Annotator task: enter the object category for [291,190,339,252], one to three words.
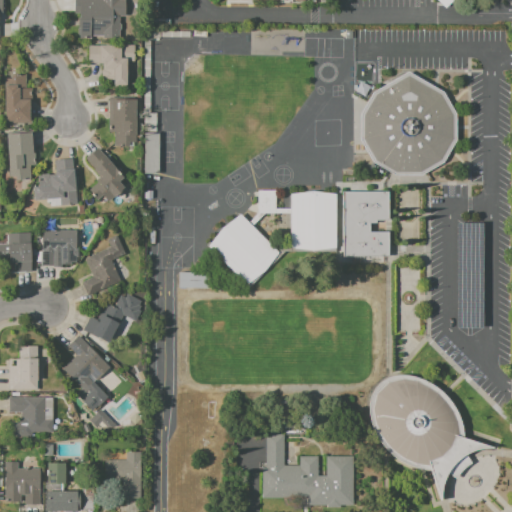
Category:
building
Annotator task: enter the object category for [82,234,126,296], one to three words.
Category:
house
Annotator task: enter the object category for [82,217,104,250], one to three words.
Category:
swimming pool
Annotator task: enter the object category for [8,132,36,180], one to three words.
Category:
house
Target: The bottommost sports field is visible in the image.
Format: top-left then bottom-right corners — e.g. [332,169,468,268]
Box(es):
[178,290,388,392]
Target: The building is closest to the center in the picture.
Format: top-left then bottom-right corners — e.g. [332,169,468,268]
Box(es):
[208,214,280,284]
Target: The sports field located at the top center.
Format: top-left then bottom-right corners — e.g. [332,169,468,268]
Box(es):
[184,55,316,183]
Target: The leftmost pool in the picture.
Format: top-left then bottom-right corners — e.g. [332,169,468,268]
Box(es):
[56,442,84,460]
